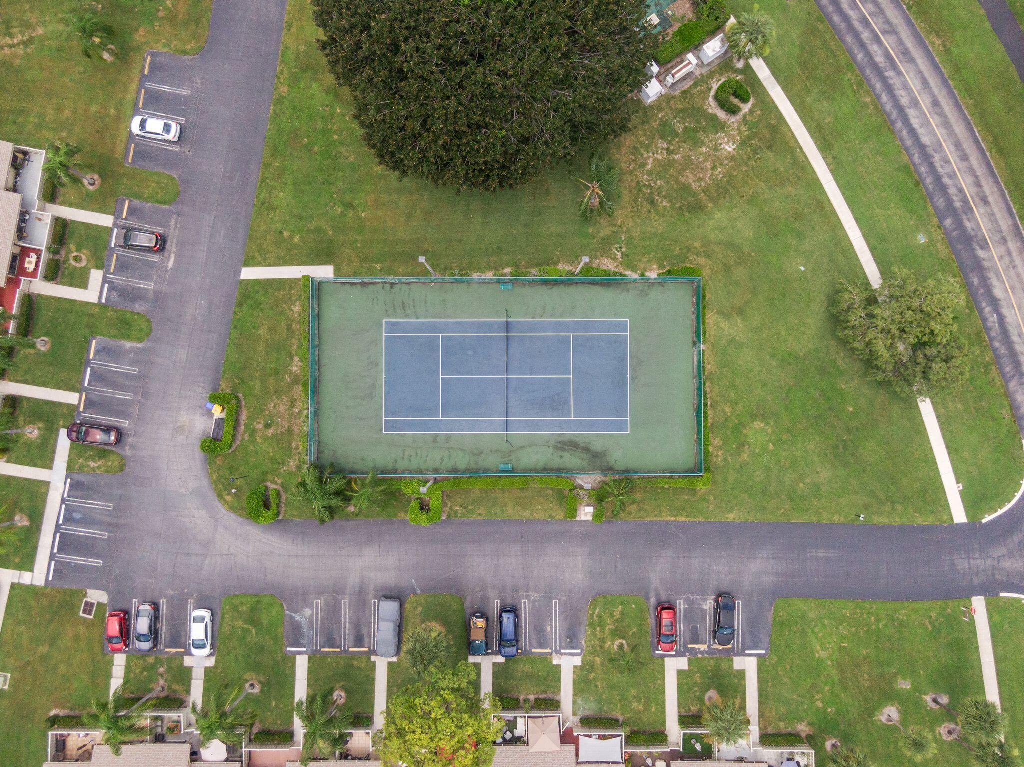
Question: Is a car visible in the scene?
Yes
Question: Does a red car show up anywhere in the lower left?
Yes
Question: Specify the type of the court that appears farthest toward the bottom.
tennis court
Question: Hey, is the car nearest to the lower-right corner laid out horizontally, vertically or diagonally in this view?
vertically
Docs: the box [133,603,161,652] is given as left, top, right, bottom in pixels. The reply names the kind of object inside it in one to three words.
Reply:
car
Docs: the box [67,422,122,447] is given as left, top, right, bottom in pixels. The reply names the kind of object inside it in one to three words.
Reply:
car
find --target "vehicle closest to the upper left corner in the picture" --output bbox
[131,114,181,142]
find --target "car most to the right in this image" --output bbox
[713,594,737,645]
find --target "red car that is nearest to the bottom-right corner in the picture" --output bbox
[656,603,680,651]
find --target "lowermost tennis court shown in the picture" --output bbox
[318,283,696,473]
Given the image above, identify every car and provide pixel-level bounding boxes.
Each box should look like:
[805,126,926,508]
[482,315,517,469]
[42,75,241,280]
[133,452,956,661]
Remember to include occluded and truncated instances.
[713,594,737,645]
[133,603,161,652]
[115,226,165,253]
[105,612,132,652]
[67,422,122,447]
[496,606,521,656]
[188,609,215,657]
[656,603,680,651]
[469,615,488,655]
[131,114,181,142]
